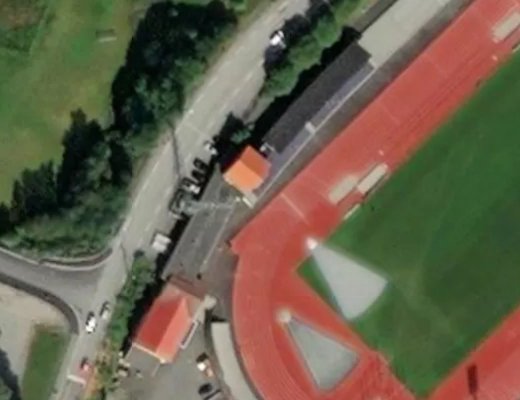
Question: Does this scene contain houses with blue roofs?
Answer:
No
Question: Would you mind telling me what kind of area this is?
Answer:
sports ground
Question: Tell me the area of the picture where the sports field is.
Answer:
right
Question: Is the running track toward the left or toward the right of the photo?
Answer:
right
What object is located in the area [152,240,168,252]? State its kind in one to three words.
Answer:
vehicle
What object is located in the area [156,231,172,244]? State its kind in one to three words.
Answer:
vehicle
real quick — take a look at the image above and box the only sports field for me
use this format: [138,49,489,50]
[295,48,520,400]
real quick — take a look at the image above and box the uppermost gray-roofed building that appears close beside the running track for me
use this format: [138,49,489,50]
[164,168,238,285]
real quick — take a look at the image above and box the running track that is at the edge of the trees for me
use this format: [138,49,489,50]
[226,0,520,400]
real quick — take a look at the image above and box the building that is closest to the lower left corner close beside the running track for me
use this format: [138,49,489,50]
[133,284,204,363]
